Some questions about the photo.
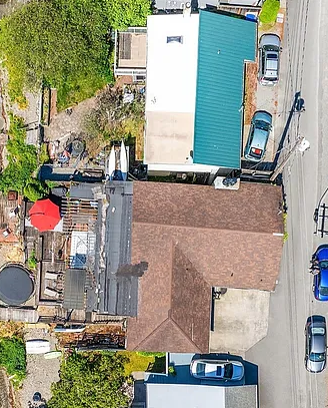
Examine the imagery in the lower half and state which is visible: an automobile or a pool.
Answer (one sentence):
The one visible in the lower half is an automobile.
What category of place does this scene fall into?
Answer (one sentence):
What you see here is a residential area.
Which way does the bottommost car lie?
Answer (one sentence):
The bottommost car is laid out from side to side.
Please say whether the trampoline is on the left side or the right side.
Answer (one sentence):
It is on the left.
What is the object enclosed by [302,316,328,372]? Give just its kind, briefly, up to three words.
car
